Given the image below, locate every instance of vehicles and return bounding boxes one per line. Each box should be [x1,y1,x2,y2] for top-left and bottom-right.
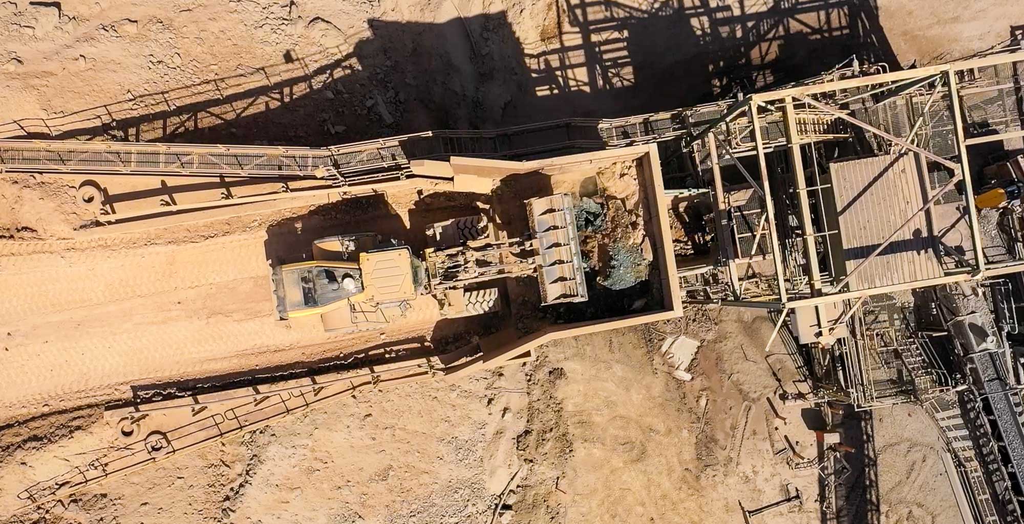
[272,195,587,333]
